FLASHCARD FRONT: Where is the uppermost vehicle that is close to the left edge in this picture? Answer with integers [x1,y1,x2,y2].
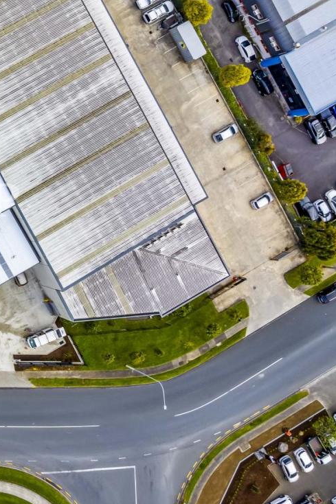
[15,270,30,287]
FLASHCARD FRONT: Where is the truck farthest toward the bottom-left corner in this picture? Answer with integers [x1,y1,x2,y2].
[27,326,68,347]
